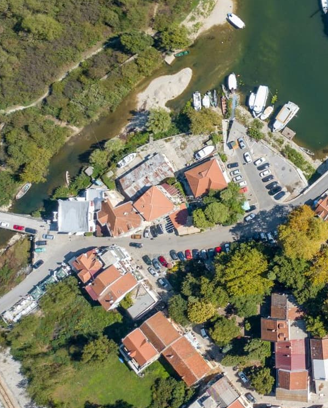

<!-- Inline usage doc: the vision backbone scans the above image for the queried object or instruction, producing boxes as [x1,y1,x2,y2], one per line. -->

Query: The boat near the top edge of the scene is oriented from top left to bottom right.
[225,11,243,27]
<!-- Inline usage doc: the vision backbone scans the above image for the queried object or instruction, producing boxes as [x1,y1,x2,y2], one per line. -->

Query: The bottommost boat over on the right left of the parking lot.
[193,146,213,161]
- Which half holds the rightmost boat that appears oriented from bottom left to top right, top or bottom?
top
